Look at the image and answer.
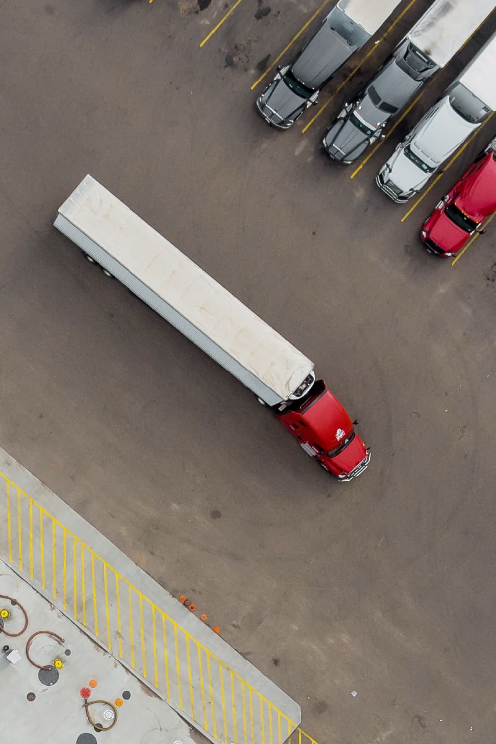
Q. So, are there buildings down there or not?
No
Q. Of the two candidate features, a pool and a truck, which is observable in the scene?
truck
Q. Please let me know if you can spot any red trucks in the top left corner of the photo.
No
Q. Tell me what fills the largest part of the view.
paved ground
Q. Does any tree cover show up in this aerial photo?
No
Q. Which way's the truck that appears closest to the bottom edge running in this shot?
at an angle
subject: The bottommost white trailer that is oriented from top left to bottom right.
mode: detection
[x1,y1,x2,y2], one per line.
[51,174,314,407]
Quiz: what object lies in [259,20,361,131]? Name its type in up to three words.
truck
